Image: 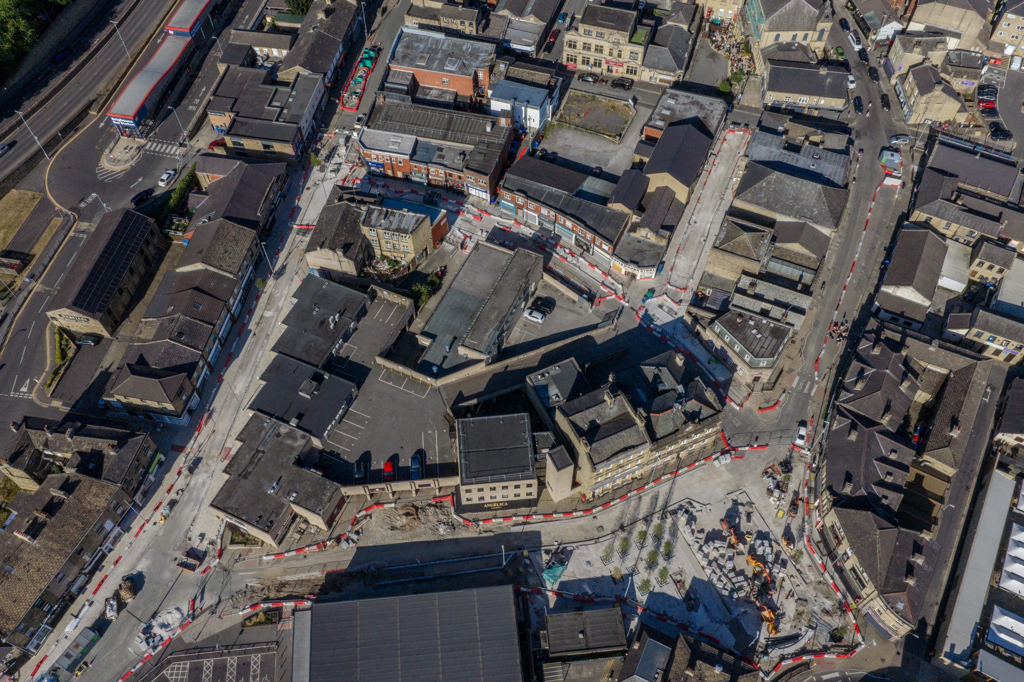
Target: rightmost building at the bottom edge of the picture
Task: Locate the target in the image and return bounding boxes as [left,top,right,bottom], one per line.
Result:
[928,467,1017,669]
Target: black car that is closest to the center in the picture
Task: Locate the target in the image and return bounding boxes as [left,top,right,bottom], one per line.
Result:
[531,294,556,314]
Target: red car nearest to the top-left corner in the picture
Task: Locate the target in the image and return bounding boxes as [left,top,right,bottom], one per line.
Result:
[208,135,227,149]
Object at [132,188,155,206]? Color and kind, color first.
black car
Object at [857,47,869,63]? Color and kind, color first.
black vehicle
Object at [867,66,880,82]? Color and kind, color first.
black vehicle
